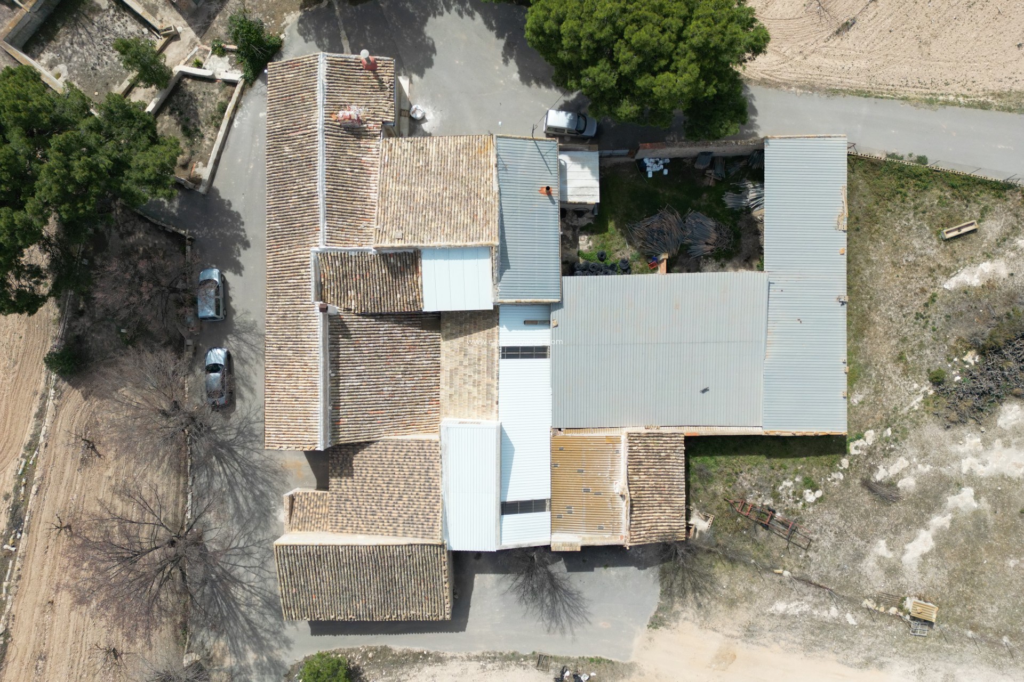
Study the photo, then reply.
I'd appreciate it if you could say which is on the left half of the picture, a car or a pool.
car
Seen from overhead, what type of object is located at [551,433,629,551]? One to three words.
shed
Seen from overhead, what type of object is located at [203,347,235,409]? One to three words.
car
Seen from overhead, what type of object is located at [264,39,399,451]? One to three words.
house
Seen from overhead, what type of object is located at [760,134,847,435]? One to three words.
shed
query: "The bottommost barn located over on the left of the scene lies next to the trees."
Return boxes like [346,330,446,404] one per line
[273,532,455,621]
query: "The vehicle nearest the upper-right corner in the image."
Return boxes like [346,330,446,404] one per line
[543,110,597,141]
